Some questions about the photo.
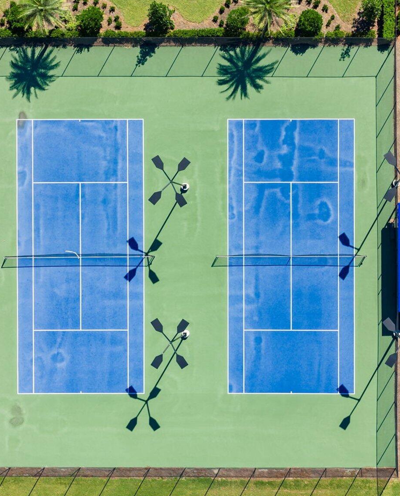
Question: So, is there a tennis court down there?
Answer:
Yes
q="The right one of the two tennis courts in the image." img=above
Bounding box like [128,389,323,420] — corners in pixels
[185,47,397,467]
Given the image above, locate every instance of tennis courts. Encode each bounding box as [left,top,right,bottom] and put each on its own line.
[0,47,185,467]
[185,47,397,467]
